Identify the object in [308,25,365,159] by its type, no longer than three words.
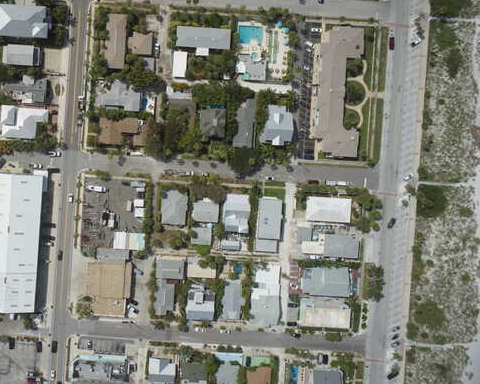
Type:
building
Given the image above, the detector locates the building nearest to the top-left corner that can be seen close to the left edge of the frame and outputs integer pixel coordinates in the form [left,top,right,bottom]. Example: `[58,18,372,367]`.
[0,4,47,40]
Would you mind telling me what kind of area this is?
residential area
